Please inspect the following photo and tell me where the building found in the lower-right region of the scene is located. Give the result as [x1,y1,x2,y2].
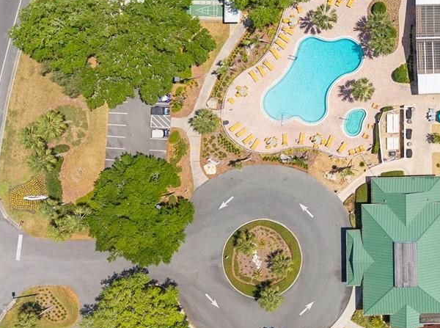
[347,175,440,328]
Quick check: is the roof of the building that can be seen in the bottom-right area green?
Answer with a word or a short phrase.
Yes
